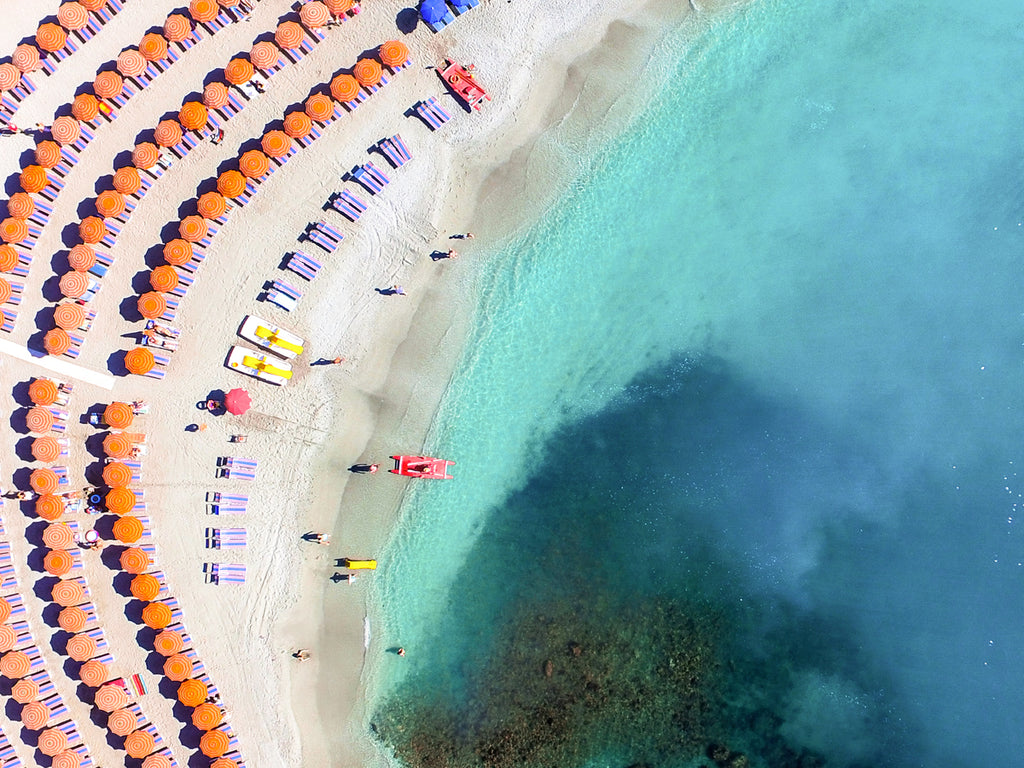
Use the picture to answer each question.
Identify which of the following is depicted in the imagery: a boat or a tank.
boat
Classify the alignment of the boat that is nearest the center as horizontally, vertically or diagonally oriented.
horizontally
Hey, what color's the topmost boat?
red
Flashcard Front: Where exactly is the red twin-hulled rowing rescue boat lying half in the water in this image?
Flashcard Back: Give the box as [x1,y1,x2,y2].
[388,454,455,481]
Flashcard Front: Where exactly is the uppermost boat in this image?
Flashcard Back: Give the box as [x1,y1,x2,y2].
[433,60,492,113]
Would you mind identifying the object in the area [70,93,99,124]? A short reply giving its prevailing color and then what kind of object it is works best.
orange umbrella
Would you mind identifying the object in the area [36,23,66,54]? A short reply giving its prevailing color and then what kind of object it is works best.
orange umbrella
